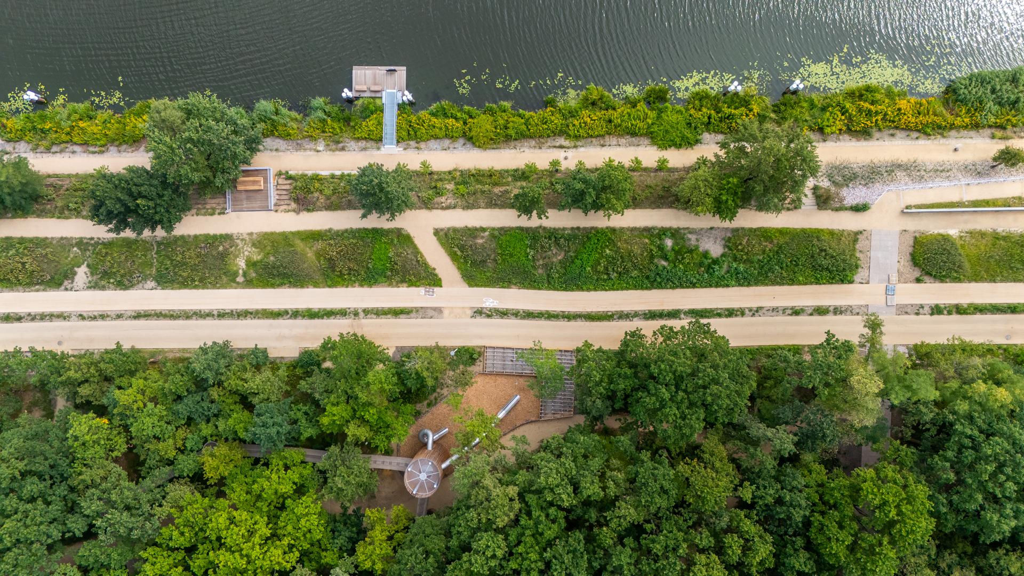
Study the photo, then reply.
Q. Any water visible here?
Yes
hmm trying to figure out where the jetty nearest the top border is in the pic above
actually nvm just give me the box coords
[353,66,406,103]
